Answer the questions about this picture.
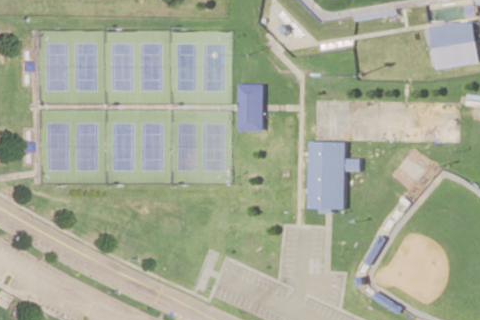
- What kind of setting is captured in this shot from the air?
sports ground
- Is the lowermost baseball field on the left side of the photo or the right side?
right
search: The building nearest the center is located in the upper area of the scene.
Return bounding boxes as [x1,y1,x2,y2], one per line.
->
[236,84,265,132]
